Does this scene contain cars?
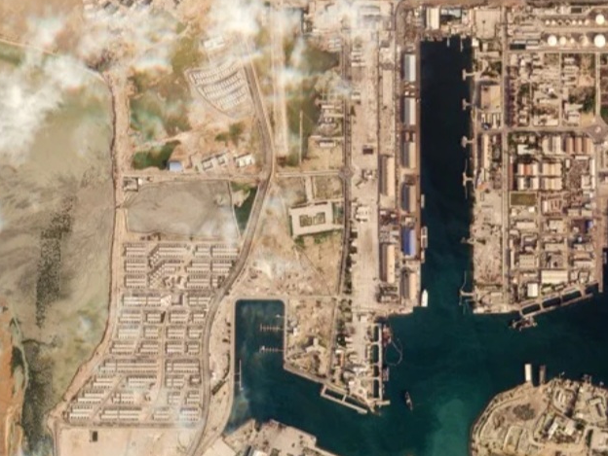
No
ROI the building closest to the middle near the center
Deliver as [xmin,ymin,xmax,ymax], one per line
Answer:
[291,204,332,233]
